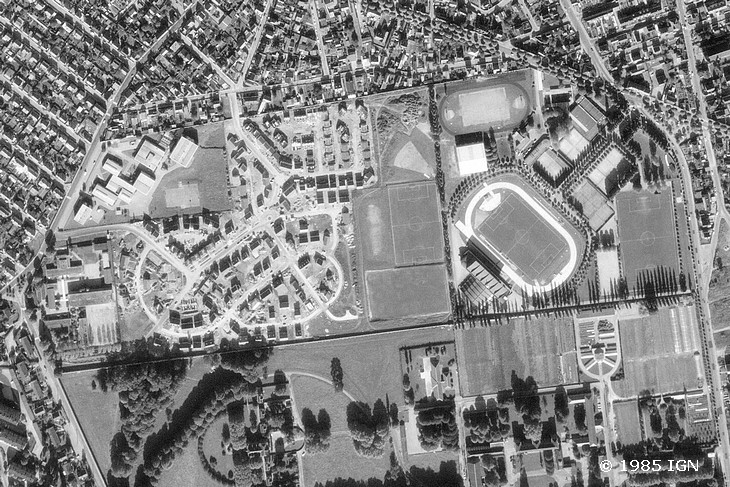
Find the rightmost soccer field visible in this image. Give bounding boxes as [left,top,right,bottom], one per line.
[617,191,684,288]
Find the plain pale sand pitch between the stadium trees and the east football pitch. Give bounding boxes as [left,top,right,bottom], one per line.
[597,248,622,297]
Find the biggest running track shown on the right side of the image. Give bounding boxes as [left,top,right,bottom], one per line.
[454,173,587,305]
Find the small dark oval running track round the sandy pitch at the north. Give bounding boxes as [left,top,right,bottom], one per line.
[441,81,530,135]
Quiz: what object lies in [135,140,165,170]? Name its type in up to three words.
building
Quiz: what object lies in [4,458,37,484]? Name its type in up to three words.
building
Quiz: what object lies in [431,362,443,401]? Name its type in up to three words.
house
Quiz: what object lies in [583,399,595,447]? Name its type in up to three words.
house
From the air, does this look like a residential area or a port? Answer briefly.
residential area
